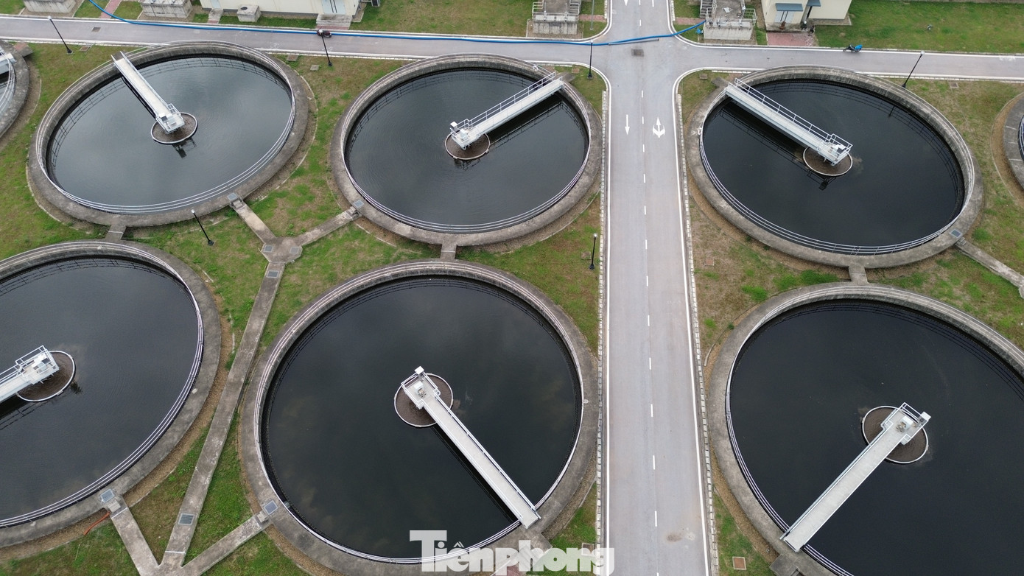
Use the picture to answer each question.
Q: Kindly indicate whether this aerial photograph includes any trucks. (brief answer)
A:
No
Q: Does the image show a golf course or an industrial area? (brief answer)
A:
industrial area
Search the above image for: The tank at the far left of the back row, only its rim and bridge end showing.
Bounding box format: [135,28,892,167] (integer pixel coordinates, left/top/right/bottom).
[0,40,36,138]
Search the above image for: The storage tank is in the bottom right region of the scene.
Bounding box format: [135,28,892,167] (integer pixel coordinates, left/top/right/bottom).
[707,281,1024,576]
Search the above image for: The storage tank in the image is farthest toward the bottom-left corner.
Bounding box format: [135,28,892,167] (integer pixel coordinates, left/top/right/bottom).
[0,238,223,546]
